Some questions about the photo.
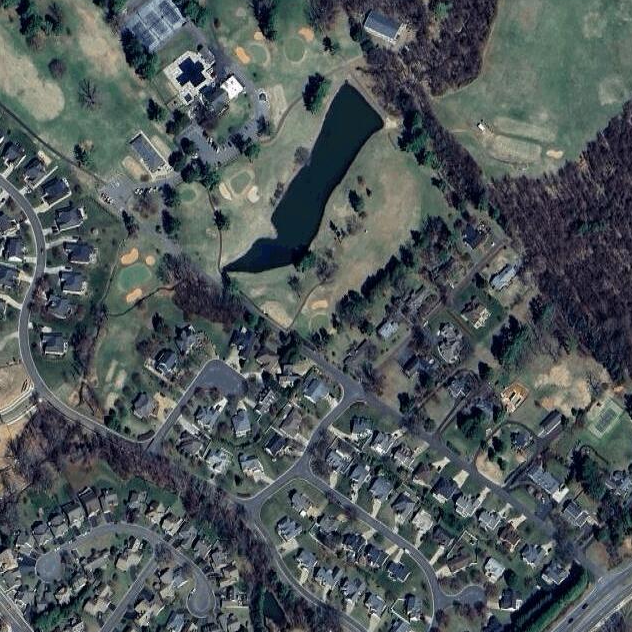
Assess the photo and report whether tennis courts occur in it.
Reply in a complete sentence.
Yes, there's a tennis court down there.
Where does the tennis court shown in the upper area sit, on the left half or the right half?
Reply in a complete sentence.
You can find the tennis court shown in the upper area on the left side of the picture.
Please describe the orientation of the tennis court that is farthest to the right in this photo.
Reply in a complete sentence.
In this picture, the tennis court that is farthest to the right lies at an angle.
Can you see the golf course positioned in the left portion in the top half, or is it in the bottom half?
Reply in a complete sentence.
The top half of the photo is where the golf course positioned in the left portion is.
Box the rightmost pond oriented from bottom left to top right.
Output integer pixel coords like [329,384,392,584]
[224,81,382,273]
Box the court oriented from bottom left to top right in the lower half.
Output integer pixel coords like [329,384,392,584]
[589,397,624,438]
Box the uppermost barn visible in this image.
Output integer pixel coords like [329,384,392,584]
[362,12,401,46]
